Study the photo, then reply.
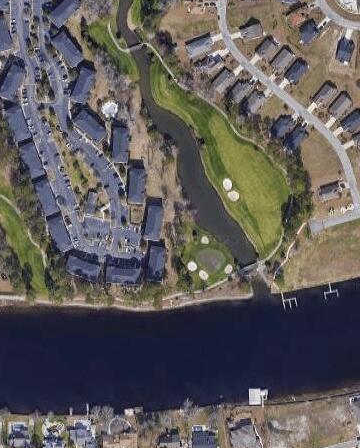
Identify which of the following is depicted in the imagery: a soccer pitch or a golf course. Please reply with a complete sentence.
This aerial view contains a golf course.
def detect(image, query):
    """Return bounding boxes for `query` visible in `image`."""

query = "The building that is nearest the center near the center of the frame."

[145,206,164,241]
